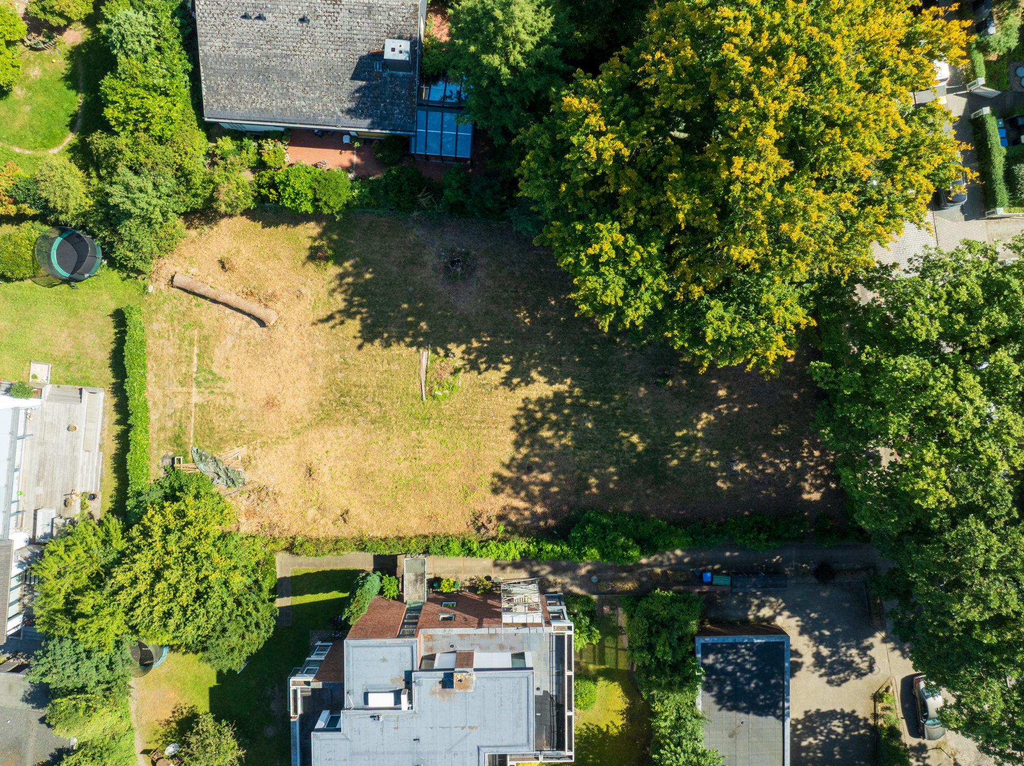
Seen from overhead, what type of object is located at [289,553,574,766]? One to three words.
building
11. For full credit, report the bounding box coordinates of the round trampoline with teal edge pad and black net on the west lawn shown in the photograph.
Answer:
[32,222,108,288]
